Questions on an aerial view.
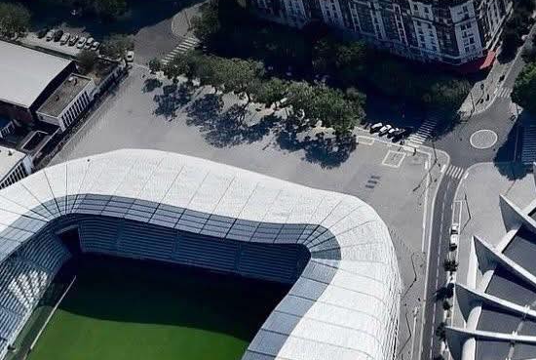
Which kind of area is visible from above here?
sports ground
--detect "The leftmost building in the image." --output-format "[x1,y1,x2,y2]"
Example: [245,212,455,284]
[0,145,31,189]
